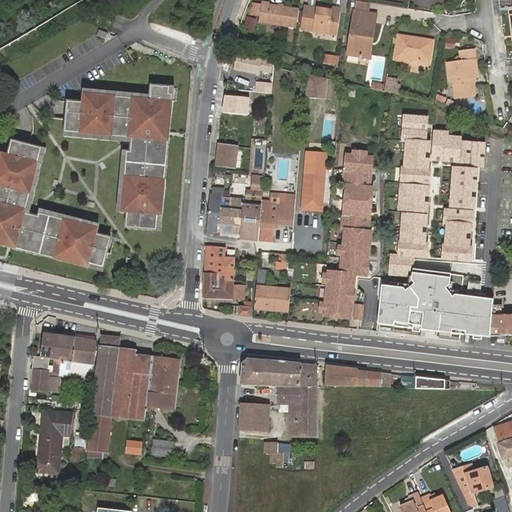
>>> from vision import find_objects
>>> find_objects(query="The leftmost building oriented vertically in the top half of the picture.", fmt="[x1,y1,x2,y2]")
[0,136,46,249]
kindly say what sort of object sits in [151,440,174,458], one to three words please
shed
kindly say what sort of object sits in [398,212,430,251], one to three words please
house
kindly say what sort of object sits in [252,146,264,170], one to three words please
swimming pool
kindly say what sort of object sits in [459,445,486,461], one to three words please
swimming pool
